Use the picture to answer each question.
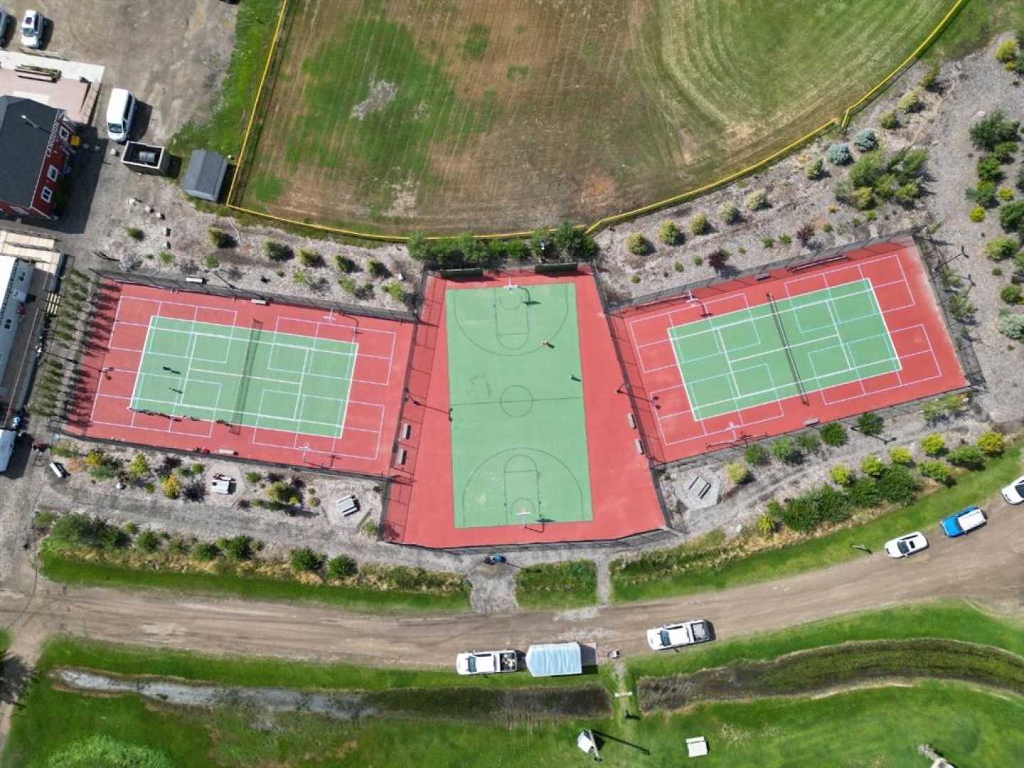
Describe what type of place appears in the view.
sports ground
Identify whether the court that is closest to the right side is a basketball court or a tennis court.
tennis court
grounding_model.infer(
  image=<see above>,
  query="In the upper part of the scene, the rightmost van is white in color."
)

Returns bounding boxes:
[105,83,135,138]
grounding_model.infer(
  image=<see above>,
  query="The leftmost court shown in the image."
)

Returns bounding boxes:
[63,278,418,477]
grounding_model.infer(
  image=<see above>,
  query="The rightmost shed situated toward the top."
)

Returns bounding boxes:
[182,150,230,201]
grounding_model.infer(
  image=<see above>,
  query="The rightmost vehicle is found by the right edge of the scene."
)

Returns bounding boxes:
[1000,482,1024,510]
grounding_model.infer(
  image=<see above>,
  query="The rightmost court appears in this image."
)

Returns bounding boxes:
[606,236,972,465]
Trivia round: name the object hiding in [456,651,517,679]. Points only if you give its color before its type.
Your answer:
white truck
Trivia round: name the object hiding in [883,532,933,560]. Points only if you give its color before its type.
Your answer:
white car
